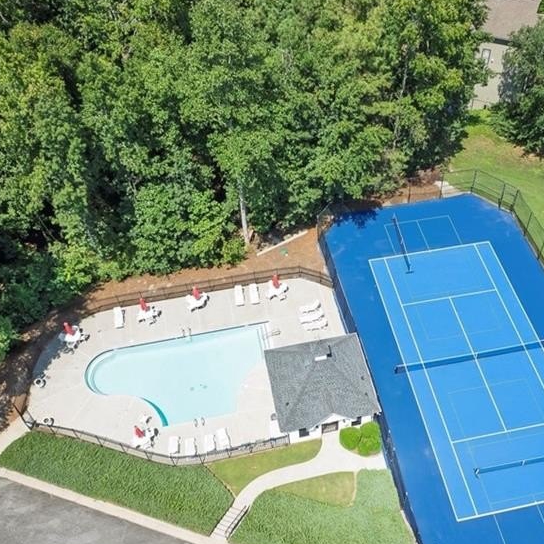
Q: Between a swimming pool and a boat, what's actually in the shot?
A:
swimming pool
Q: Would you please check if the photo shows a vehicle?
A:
No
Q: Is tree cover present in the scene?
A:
Yes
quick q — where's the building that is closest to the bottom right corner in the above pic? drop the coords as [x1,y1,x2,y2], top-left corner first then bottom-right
[264,333,382,443]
